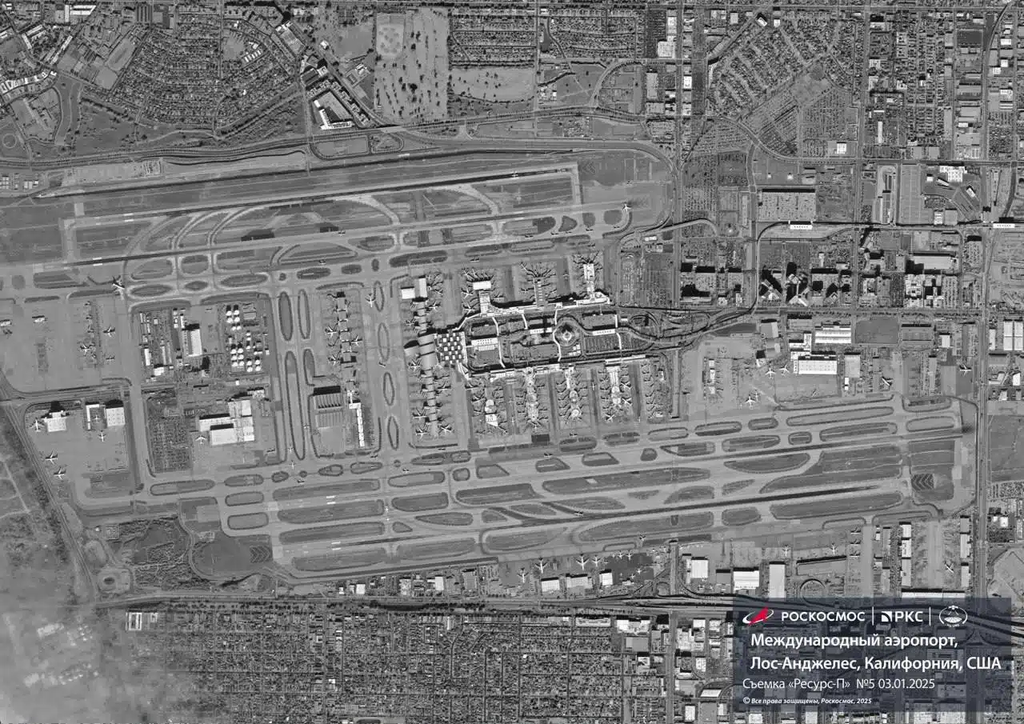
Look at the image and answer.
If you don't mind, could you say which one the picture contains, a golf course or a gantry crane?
golf course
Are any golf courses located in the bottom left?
No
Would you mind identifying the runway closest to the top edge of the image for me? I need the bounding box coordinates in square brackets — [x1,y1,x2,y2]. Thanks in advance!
[67,164,579,228]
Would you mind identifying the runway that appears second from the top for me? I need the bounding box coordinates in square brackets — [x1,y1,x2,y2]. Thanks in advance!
[34,198,641,273]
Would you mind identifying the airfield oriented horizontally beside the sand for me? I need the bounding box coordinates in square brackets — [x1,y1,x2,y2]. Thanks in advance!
[0,144,978,598]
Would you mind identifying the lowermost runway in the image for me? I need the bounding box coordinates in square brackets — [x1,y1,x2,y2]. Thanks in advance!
[272,480,909,558]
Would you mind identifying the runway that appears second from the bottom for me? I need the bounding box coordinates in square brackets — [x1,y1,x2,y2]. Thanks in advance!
[266,431,965,511]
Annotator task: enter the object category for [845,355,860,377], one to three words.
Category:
building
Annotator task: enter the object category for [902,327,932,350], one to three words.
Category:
building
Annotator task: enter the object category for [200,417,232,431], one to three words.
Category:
hangar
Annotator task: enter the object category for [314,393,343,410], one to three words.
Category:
hangar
